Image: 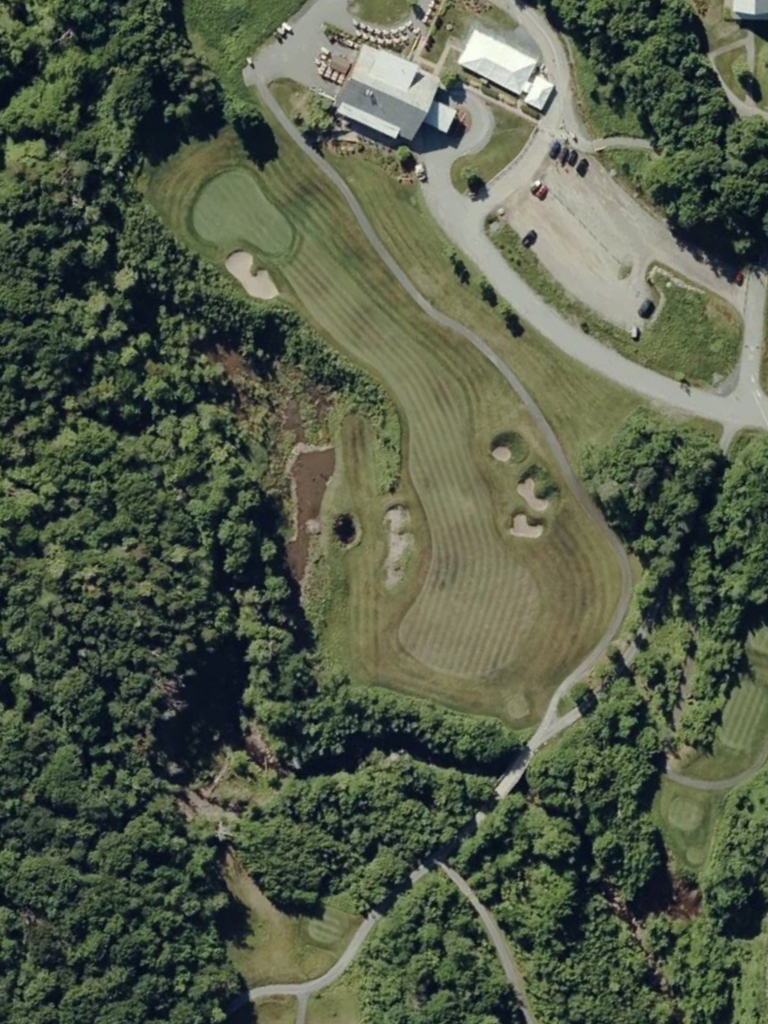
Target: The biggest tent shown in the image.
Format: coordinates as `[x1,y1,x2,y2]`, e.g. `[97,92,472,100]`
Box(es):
[458,30,537,94]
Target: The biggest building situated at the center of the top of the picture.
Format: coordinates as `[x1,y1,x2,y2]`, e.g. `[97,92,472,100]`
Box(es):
[336,45,457,141]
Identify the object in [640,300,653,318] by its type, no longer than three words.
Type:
vehicle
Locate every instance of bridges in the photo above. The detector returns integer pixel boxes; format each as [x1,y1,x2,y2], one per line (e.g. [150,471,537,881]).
[494,747,534,801]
